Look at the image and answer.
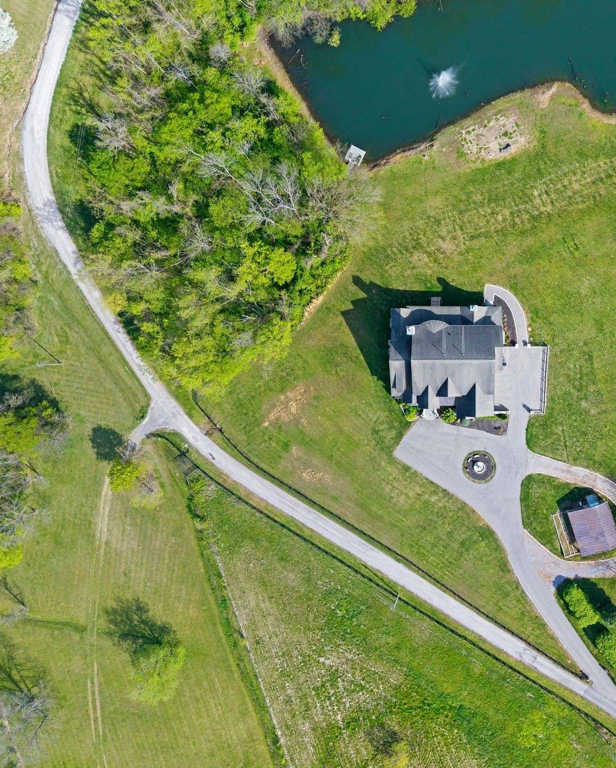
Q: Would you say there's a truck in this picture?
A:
No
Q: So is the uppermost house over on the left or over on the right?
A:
right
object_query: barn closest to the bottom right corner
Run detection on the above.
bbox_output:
[568,501,616,557]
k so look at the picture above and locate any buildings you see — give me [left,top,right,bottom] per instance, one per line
[387,305,504,419]
[568,501,616,557]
